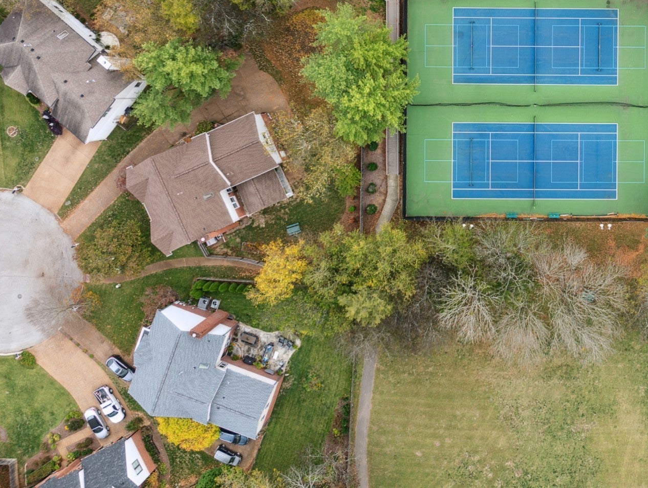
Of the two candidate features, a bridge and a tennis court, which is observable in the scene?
tennis court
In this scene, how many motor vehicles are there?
five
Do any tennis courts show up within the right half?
Yes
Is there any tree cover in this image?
Yes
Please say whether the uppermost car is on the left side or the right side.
left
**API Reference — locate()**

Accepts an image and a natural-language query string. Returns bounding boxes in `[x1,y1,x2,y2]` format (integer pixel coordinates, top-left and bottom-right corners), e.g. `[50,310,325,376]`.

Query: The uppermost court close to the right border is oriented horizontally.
[406,0,648,105]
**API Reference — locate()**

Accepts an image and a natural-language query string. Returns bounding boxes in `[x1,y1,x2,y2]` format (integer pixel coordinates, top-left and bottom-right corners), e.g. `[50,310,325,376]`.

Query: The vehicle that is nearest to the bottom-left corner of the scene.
[84,406,111,440]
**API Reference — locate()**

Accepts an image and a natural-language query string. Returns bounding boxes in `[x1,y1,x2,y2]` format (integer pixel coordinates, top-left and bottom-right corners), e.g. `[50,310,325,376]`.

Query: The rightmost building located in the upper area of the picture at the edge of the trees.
[127,113,292,256]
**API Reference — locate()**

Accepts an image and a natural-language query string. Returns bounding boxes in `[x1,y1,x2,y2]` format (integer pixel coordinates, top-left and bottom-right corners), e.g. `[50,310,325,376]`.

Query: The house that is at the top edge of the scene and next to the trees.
[0,0,150,143]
